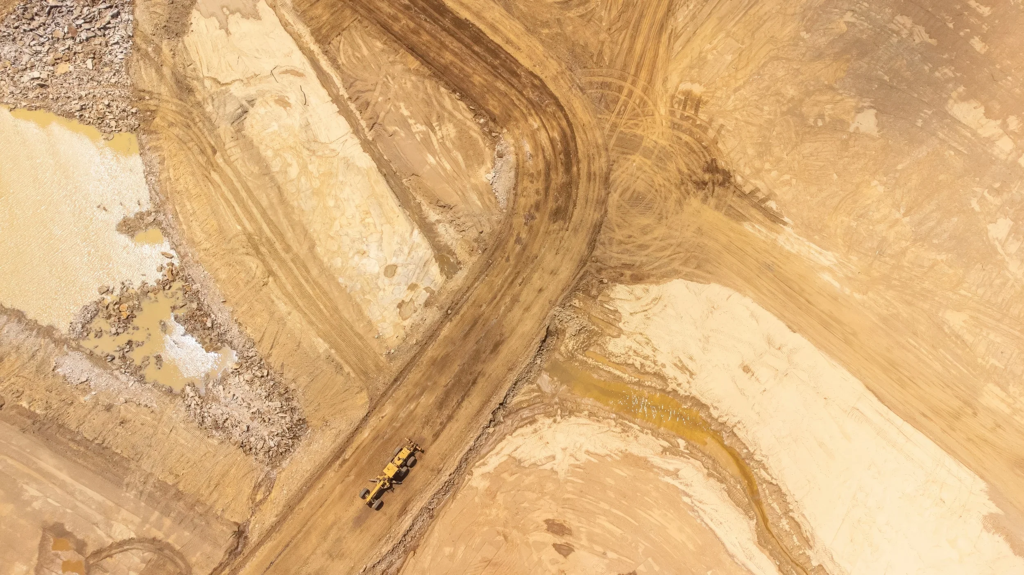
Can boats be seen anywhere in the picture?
No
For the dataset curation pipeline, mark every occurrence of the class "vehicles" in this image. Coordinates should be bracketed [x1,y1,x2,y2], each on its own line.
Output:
[358,435,423,509]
